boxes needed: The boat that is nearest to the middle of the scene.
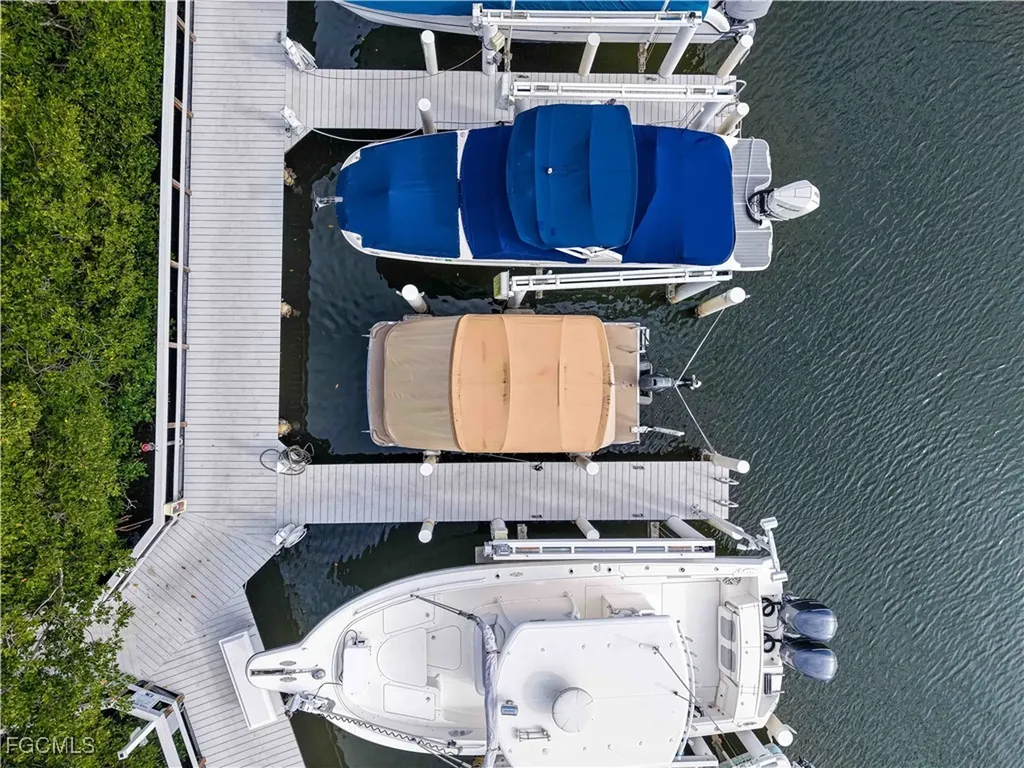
[361,307,705,460]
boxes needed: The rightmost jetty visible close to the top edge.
[285,38,739,154]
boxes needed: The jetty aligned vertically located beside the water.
[63,0,311,768]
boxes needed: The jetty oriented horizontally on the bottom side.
[276,440,728,550]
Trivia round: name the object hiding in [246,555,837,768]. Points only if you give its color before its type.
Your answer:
white boat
